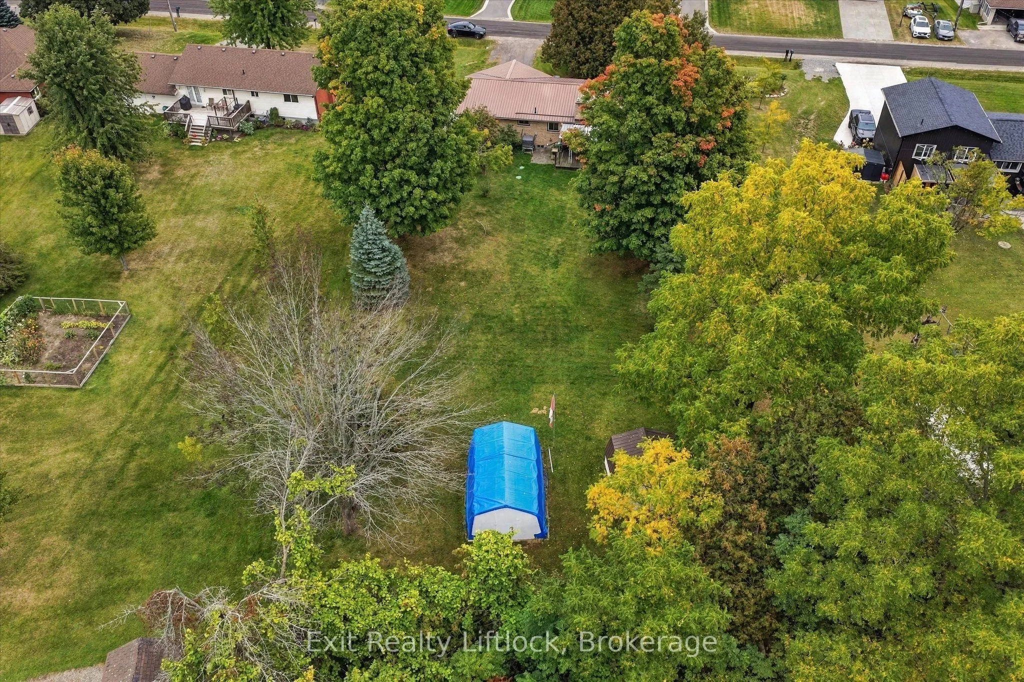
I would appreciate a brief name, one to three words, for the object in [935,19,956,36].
car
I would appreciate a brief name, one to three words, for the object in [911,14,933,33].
car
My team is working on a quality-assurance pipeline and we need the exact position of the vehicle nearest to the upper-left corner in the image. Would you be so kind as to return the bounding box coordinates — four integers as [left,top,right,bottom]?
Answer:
[447,19,486,36]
